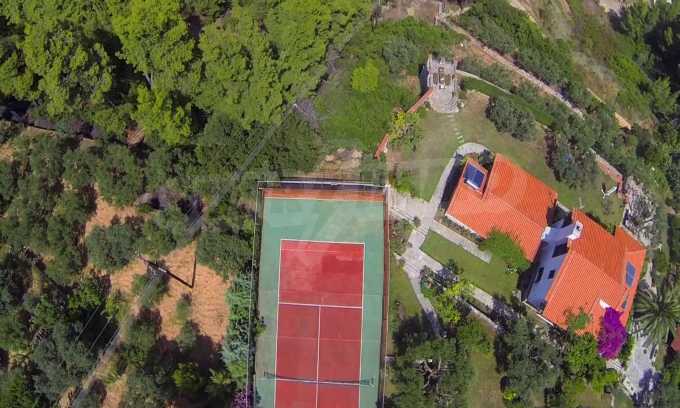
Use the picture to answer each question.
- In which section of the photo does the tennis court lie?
bottom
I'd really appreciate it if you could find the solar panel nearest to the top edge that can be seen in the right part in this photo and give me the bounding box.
[464,163,487,191]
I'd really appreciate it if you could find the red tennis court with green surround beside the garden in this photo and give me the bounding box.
[252,189,388,408]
